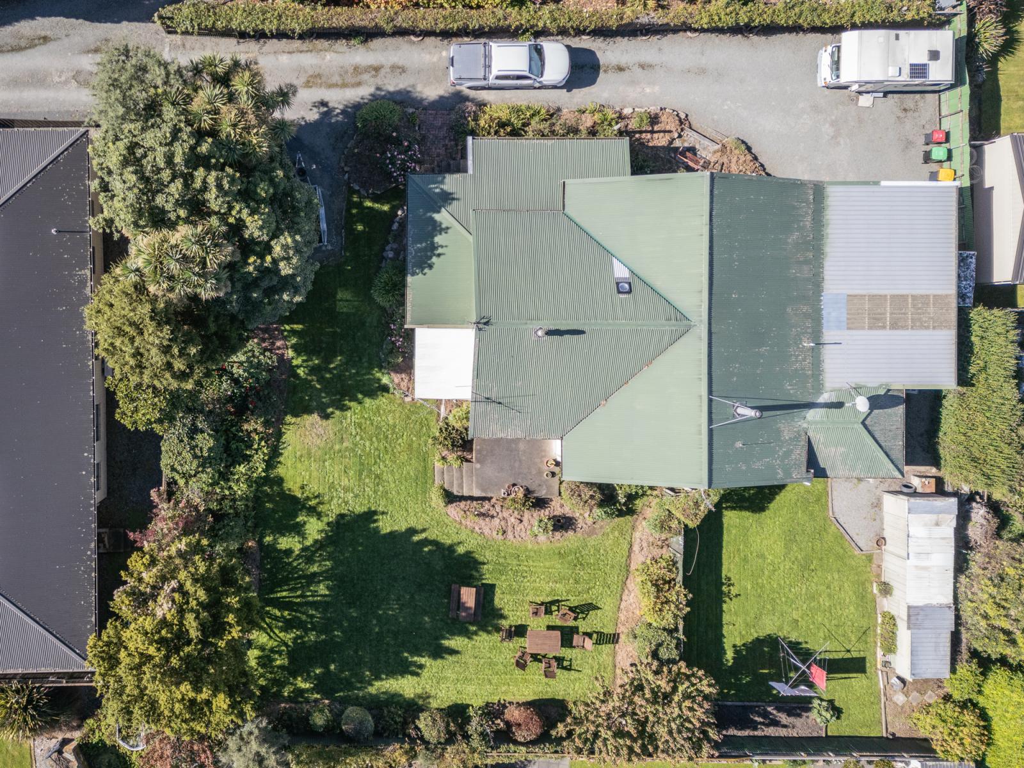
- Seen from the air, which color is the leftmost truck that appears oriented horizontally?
white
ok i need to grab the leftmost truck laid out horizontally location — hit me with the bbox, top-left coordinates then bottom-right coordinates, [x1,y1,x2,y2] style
[444,36,569,91]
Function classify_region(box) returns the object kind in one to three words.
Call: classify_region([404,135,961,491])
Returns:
house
